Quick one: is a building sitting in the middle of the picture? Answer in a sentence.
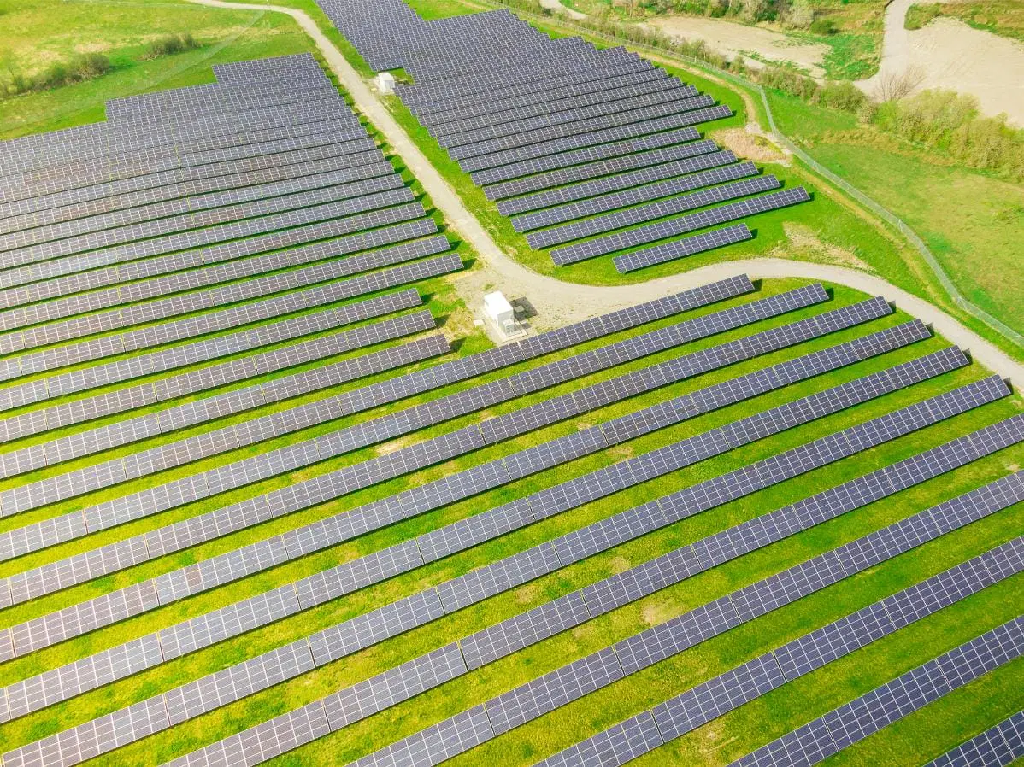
Yes, in the middle of the picture there is a building.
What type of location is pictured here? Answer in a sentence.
The area seen from above is a solar farm.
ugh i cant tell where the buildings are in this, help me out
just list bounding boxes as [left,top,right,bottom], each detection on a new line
[378,72,396,92]
[482,291,520,333]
